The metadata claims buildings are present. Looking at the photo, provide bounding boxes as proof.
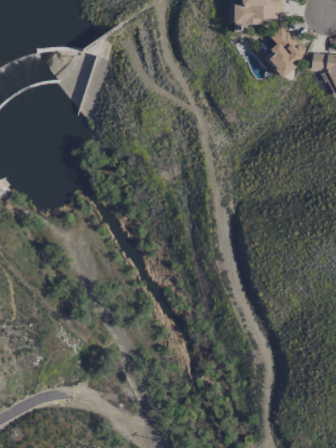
[235,0,284,25]
[327,54,336,85]
[312,53,324,70]
[270,26,308,80]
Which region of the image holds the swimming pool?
top right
